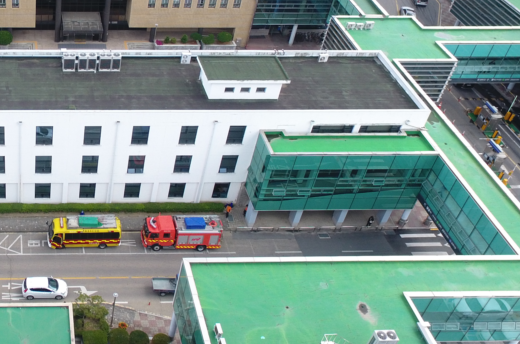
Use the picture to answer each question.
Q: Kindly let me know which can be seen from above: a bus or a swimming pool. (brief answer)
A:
bus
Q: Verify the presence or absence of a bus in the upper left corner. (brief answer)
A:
No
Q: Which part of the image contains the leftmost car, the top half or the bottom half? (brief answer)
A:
bottom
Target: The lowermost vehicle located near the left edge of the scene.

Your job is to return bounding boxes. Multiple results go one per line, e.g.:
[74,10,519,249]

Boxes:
[23,273,67,298]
